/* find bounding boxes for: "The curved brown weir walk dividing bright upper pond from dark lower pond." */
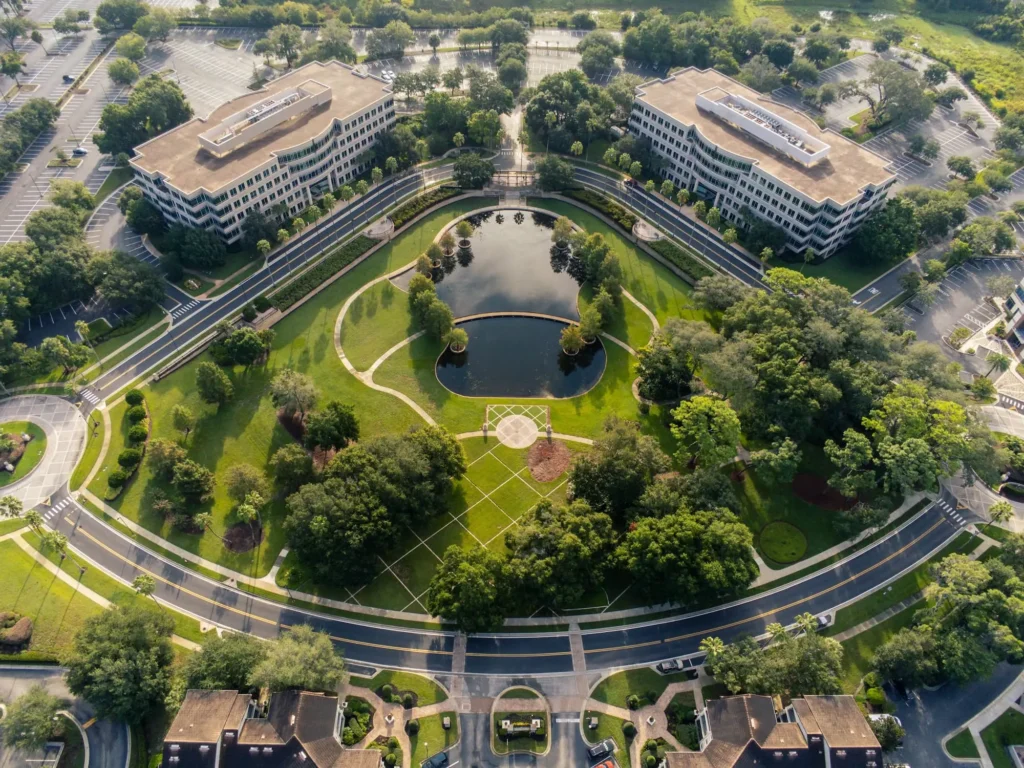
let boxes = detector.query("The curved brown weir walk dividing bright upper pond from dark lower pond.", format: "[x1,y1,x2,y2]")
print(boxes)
[448,309,582,326]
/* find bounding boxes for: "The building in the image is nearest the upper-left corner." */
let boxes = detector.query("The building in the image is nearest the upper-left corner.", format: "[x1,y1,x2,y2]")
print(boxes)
[129,59,397,254]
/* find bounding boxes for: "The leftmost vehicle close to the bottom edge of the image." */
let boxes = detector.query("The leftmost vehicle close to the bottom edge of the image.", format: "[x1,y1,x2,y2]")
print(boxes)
[417,746,448,768]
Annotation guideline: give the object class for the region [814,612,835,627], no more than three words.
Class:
car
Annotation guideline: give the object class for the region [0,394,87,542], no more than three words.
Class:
roundabout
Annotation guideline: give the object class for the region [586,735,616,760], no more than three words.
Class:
truck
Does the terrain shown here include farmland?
No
